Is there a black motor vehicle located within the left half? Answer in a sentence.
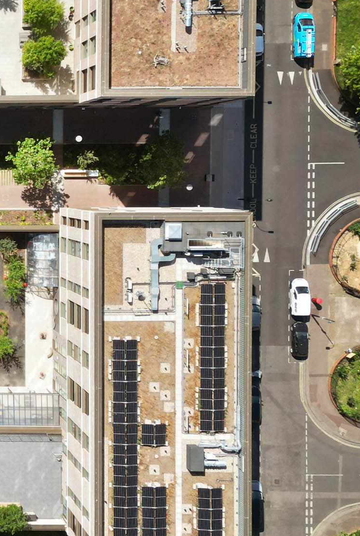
No, I see no black motor vehicle within the left half.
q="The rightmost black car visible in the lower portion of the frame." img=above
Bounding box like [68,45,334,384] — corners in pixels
[289,321,311,360]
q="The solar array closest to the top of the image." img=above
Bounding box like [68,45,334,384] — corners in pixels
[194,282,229,433]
